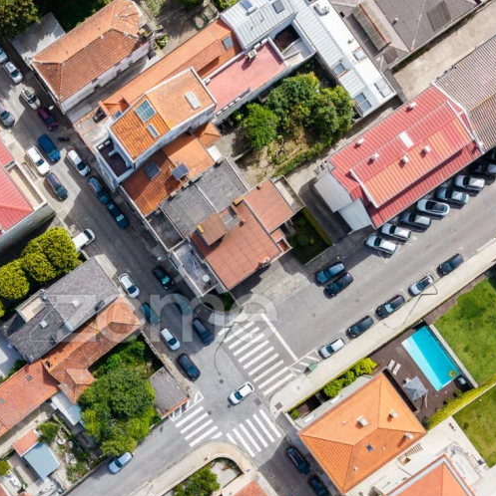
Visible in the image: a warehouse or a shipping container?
warehouse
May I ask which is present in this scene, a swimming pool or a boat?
swimming pool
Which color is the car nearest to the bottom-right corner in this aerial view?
black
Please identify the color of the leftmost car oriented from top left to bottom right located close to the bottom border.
black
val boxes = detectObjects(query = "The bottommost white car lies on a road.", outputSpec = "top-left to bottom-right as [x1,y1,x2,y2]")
[227,381,256,405]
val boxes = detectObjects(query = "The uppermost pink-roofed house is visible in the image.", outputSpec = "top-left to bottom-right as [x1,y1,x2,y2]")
[204,38,289,124]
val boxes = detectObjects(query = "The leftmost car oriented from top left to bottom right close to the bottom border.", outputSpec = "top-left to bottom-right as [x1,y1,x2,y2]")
[284,444,311,477]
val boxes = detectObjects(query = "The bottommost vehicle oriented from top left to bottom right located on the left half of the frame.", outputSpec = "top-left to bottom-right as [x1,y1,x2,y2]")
[176,351,202,383]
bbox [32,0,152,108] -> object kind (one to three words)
house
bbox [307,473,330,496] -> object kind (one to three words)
car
